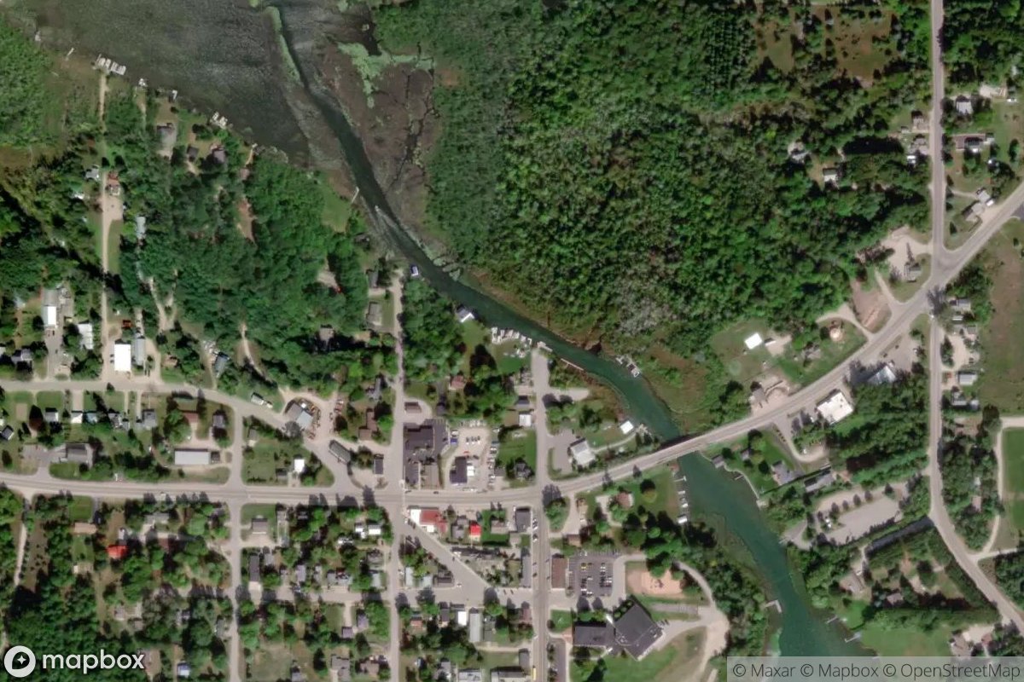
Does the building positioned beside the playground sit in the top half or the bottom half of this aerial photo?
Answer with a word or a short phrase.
bottom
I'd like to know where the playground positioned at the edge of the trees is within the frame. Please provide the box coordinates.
[628,569,684,595]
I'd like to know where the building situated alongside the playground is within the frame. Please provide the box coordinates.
[572,605,661,658]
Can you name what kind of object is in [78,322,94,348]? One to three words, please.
barn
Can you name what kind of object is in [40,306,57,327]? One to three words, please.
barn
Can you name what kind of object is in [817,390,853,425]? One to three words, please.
building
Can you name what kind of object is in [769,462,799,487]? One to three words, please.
house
